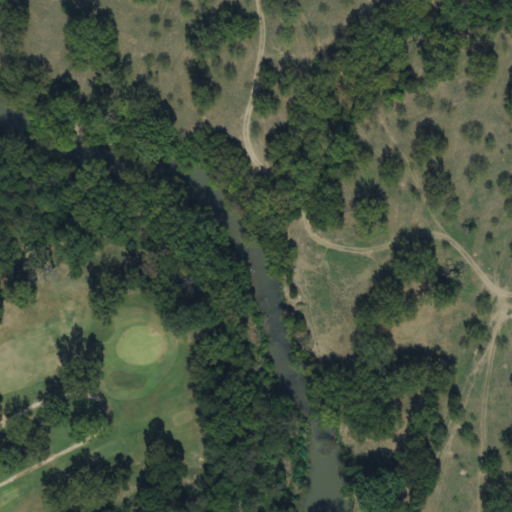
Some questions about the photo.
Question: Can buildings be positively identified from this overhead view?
No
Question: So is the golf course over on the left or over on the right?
left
